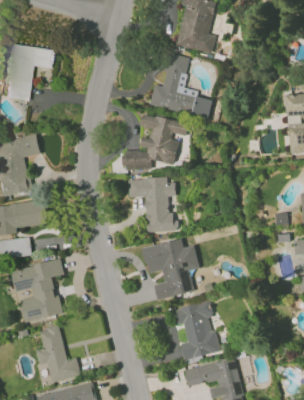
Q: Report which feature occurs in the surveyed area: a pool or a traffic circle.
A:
pool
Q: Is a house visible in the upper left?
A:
Yes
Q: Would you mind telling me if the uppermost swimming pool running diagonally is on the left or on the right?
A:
right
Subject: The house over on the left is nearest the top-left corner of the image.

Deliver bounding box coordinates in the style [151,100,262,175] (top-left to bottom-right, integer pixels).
[6,42,54,100]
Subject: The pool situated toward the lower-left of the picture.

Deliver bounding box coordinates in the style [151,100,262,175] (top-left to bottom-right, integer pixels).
[20,353,35,380]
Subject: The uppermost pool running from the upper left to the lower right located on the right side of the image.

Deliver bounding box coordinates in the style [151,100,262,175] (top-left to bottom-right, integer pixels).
[191,64,212,91]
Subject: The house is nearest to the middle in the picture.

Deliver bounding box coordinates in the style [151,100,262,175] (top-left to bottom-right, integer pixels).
[130,178,178,234]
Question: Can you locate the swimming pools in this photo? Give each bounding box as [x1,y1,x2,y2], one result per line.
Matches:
[20,353,35,380]
[282,180,304,206]
[284,366,302,396]
[191,64,212,91]
[260,127,278,154]
[0,98,24,125]
[220,260,245,279]
[254,356,270,386]
[296,310,304,334]
[278,252,296,280]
